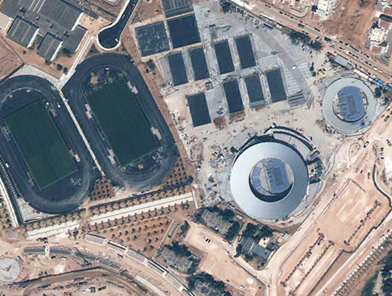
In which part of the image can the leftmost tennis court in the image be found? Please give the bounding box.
[135,21,169,57]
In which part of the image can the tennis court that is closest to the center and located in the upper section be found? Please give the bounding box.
[187,91,210,127]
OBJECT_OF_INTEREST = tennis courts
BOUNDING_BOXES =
[244,73,264,108]
[235,34,256,68]
[190,46,209,80]
[166,13,200,48]
[187,91,210,127]
[161,0,193,18]
[135,21,169,57]
[264,67,287,103]
[223,79,244,113]
[214,39,234,74]
[168,52,188,85]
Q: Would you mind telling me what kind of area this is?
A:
sports ground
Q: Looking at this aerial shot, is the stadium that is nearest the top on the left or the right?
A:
right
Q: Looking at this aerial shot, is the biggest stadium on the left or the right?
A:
right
